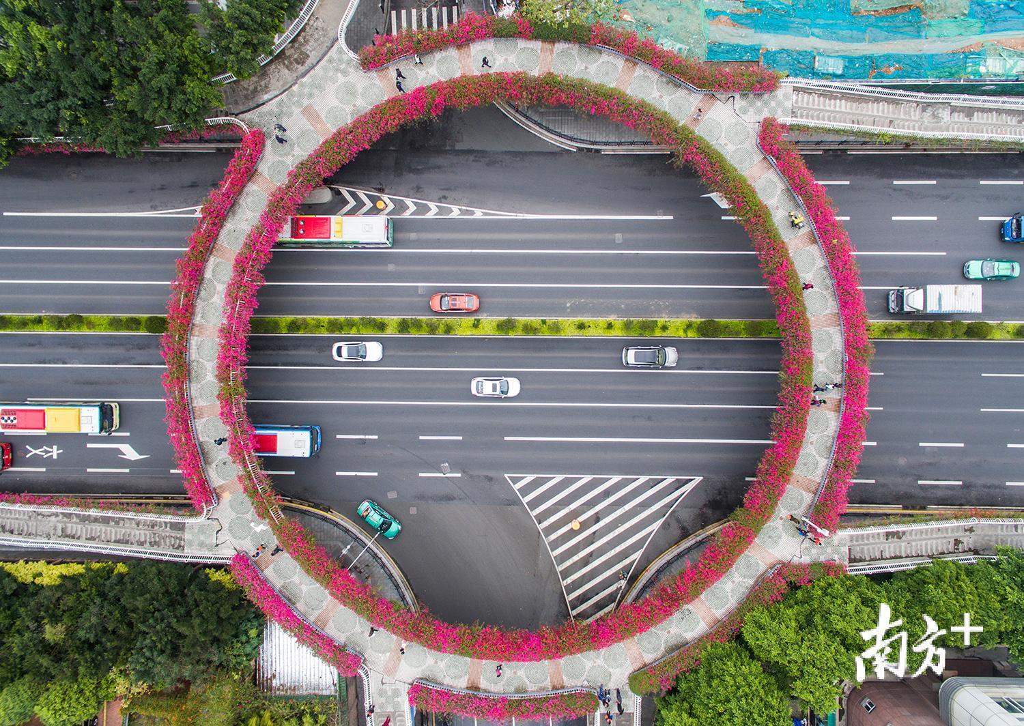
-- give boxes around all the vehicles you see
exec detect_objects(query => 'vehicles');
[622,344,676,368]
[279,211,393,244]
[0,401,116,436]
[359,499,401,540]
[332,340,383,363]
[431,291,479,314]
[959,257,1017,281]
[996,212,1024,247]
[471,376,520,399]
[0,446,13,466]
[254,425,318,460]
[883,282,985,316]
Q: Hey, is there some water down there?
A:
No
